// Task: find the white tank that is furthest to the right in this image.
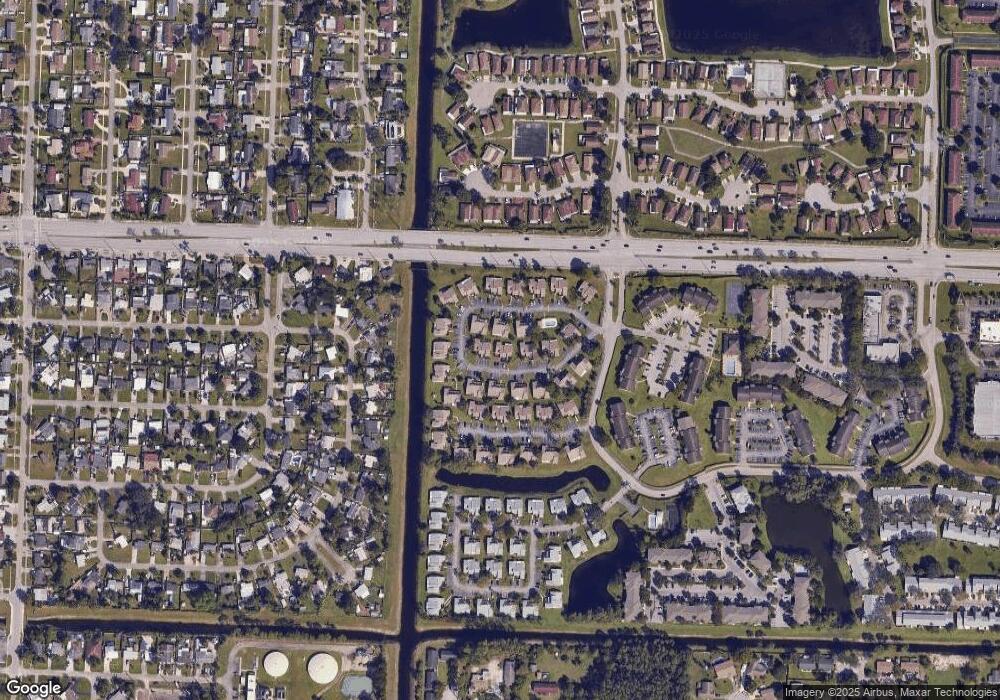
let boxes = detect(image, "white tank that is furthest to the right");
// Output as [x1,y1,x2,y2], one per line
[308,653,338,684]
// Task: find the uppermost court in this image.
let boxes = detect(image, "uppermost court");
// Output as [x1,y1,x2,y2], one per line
[756,62,785,99]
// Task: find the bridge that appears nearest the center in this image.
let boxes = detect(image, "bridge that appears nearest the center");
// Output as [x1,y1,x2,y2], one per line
[408,228,433,263]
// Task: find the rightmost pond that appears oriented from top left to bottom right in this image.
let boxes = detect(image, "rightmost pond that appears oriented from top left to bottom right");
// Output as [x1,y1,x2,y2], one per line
[764,496,852,617]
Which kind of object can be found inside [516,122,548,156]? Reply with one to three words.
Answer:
sports court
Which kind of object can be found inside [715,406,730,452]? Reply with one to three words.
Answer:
building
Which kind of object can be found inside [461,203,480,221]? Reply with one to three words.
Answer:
house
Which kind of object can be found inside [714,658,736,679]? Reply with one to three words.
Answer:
house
